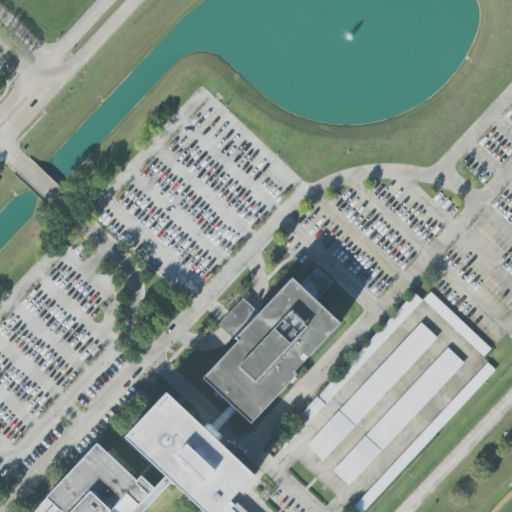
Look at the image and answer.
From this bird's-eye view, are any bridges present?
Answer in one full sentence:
Yes, this view includes a bridge.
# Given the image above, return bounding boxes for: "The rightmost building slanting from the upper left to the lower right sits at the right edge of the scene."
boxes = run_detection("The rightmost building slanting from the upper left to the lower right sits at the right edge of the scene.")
[424,292,492,356]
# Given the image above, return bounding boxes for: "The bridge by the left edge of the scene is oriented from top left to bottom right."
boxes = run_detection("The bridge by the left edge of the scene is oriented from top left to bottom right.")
[4,150,60,202]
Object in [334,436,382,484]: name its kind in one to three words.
building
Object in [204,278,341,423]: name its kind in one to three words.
building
